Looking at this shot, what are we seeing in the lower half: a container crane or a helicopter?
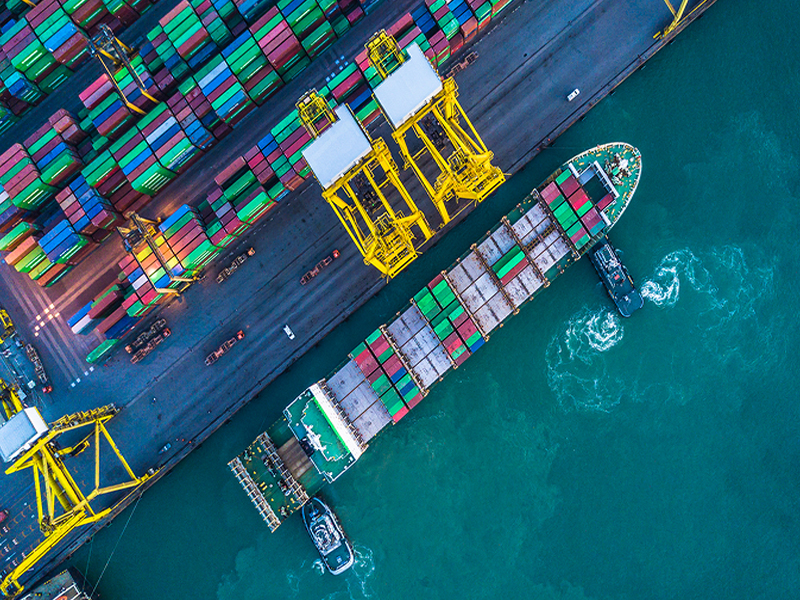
container crane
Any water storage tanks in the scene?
No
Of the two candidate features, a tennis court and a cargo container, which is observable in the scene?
cargo container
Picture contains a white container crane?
No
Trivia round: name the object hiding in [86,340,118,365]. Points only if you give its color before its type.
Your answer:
green shipping container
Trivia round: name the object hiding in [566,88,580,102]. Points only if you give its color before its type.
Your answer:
white vehicle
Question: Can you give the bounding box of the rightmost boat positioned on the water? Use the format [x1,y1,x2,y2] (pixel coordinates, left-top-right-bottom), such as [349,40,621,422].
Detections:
[589,234,642,320]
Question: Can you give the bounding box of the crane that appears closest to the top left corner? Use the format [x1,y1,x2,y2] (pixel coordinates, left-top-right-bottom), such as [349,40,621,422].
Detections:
[85,25,159,117]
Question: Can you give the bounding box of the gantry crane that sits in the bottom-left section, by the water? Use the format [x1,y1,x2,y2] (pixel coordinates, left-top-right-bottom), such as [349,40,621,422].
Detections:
[0,367,150,600]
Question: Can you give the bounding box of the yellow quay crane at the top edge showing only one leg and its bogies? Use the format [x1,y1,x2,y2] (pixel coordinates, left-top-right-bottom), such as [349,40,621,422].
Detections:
[652,0,709,44]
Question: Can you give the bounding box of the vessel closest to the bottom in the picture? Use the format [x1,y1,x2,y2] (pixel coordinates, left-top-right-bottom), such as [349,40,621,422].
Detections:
[27,563,104,600]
